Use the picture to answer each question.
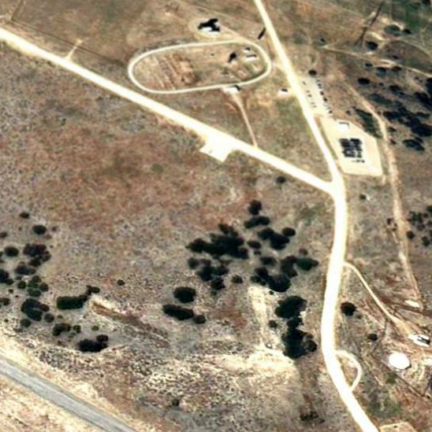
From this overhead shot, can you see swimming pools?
No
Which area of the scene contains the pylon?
top right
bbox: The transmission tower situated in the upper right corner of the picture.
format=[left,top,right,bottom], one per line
[359,9,381,48]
